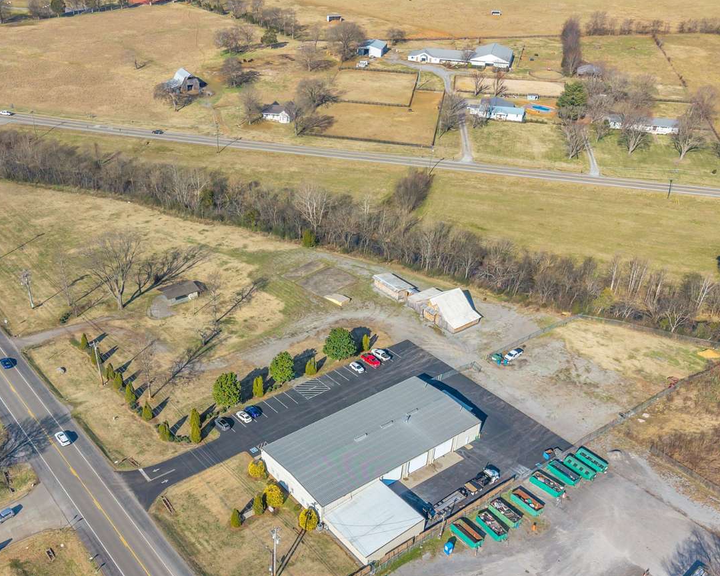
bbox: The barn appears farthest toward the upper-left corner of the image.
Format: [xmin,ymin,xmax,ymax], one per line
[160,65,210,92]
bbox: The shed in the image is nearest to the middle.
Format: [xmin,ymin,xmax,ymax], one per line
[372,274,419,302]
